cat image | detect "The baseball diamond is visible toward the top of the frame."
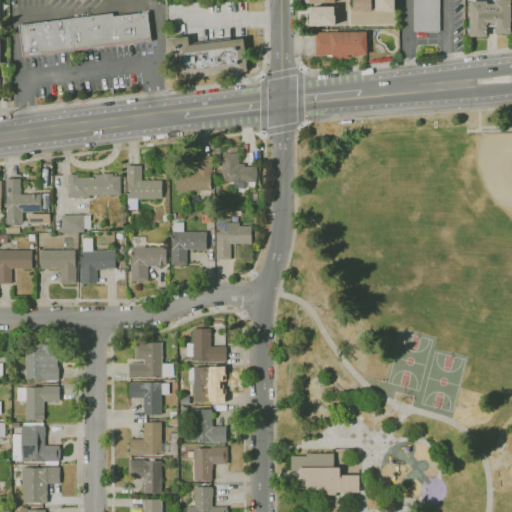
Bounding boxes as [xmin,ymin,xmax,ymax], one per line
[478,132,512,208]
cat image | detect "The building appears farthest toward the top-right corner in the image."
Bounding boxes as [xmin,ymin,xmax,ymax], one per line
[468,1,512,37]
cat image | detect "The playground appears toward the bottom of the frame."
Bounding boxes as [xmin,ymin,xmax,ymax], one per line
[384,442,447,502]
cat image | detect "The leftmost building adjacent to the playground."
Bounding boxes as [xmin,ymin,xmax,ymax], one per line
[292,454,360,496]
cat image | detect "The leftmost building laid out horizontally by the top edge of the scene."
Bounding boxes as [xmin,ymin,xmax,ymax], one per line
[18,10,152,57]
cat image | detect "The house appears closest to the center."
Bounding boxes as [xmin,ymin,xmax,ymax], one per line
[216,216,252,259]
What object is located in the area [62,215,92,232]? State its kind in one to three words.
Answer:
building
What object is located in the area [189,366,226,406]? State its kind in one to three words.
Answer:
house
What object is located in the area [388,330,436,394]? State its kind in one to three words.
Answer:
basketball court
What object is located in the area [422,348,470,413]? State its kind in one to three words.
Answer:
basketball court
